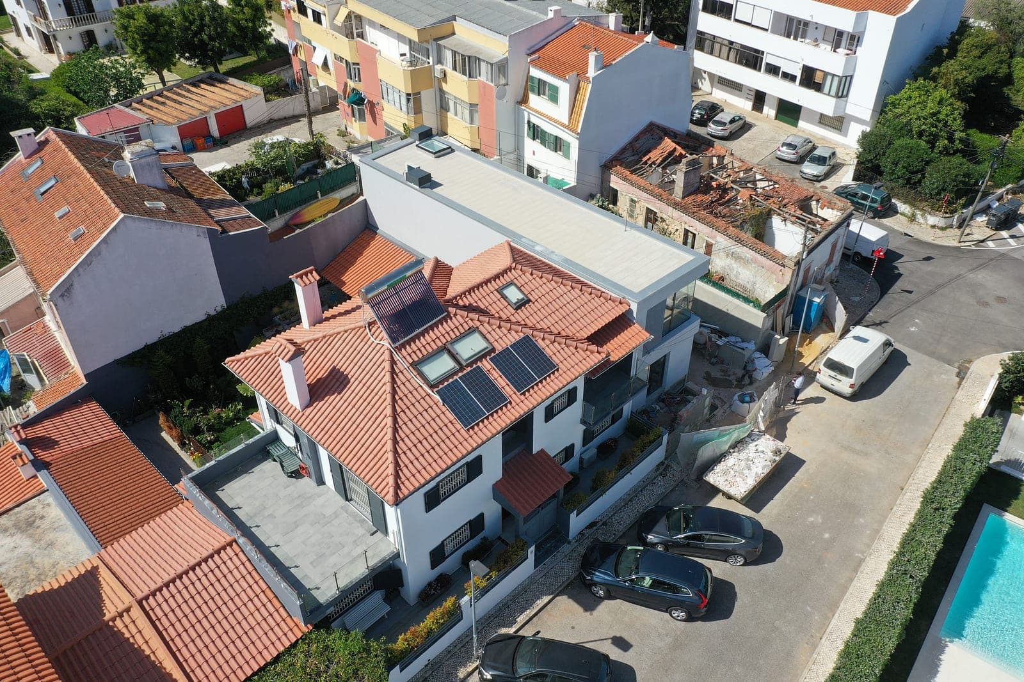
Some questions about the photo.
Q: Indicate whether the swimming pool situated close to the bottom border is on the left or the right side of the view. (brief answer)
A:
right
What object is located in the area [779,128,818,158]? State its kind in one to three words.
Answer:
car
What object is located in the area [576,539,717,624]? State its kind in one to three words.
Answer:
car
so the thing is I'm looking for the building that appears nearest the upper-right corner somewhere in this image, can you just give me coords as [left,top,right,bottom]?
[710,0,968,146]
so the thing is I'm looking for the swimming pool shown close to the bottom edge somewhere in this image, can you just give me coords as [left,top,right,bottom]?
[939,512,1024,682]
